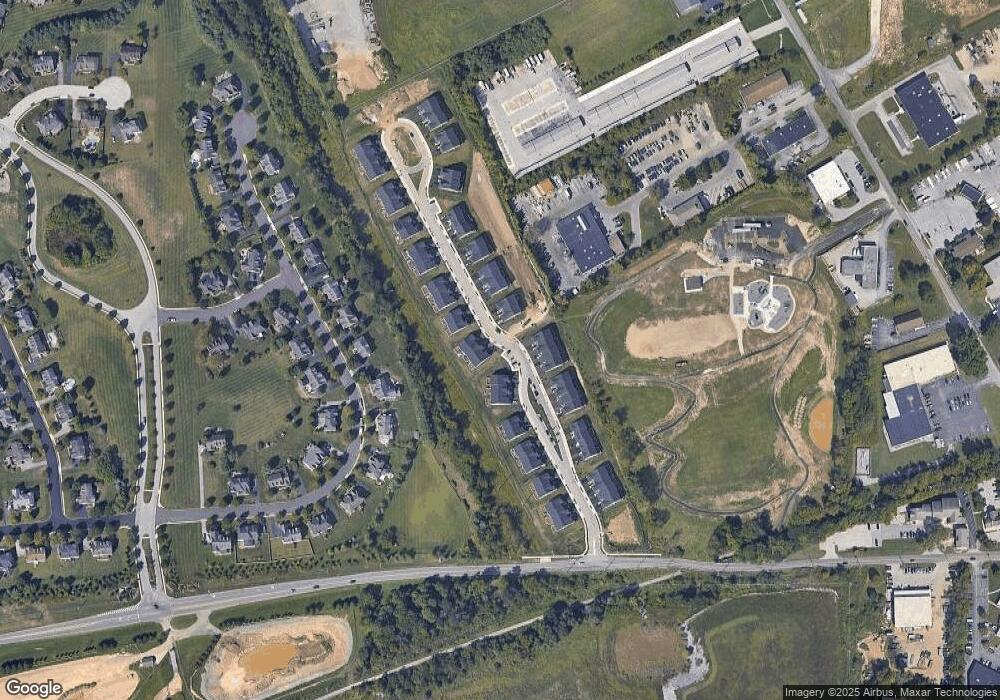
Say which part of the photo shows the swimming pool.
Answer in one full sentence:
Look in the top left portion of the view to spot the swimming pool.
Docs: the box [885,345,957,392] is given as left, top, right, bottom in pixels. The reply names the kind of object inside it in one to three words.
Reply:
building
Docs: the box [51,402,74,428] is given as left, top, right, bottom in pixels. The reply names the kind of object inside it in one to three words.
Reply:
house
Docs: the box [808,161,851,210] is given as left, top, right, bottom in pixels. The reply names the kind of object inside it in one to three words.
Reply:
building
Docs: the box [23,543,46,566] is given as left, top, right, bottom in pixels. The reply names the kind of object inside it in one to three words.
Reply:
house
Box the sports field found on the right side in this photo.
[629,315,736,357]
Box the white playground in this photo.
[731,276,795,332]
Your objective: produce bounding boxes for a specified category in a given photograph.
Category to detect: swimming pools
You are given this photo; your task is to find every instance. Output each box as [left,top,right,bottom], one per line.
[80,134,102,153]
